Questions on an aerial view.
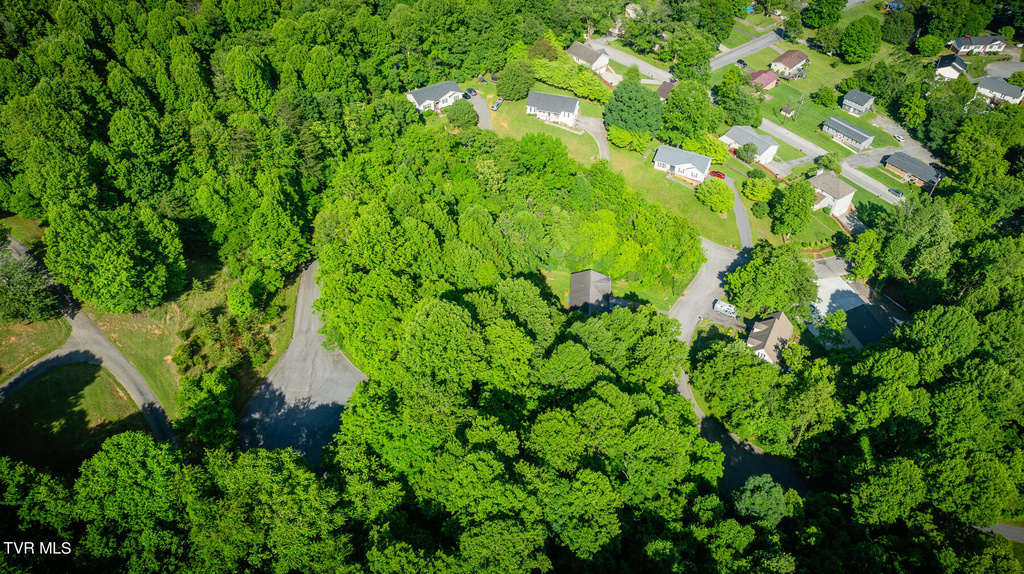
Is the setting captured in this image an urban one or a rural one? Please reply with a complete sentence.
The area is rural.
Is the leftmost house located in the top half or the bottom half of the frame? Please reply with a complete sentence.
The top half of the photo is where the leftmost house is.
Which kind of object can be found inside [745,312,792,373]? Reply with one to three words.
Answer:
house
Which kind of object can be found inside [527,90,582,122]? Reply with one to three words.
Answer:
house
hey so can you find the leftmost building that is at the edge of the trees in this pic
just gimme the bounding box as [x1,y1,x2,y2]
[404,81,462,114]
